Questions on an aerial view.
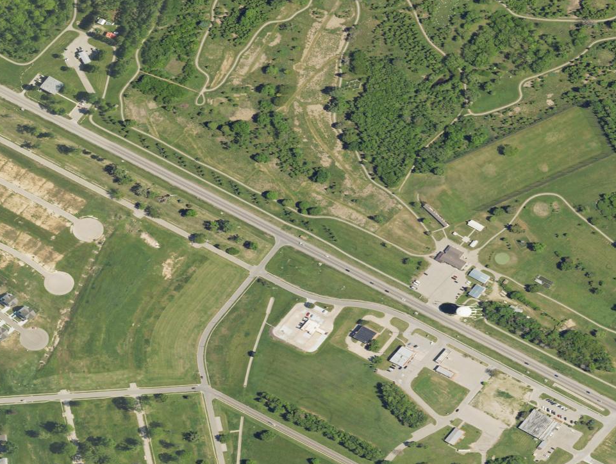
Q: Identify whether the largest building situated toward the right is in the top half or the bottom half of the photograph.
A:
bottom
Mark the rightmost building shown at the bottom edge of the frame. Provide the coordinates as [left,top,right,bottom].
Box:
[518,409,561,449]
